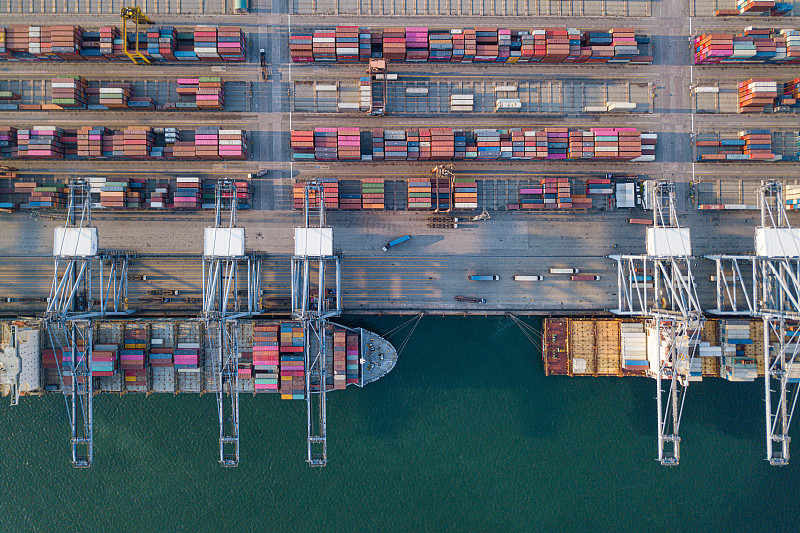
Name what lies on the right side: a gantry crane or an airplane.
gantry crane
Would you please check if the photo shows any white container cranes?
Yes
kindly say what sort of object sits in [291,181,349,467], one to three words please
container crane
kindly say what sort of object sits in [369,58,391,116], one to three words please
crane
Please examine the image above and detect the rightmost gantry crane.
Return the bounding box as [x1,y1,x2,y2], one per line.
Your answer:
[700,181,800,467]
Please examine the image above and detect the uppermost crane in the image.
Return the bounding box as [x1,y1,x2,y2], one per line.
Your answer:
[120,5,155,66]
